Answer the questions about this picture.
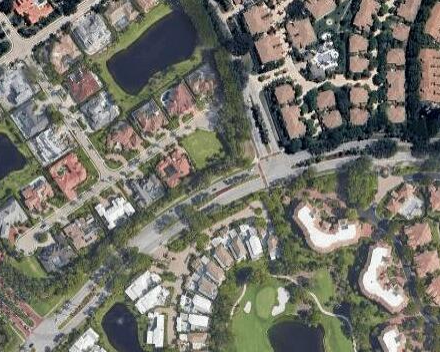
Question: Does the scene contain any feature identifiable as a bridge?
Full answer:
No, no bridge is visible in the view.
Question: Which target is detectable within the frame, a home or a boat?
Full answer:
I can see a home in this picture.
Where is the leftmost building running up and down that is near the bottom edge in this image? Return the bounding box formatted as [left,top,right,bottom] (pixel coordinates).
[147,308,165,347]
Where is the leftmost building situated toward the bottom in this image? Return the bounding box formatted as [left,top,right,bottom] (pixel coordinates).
[0,196,30,239]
